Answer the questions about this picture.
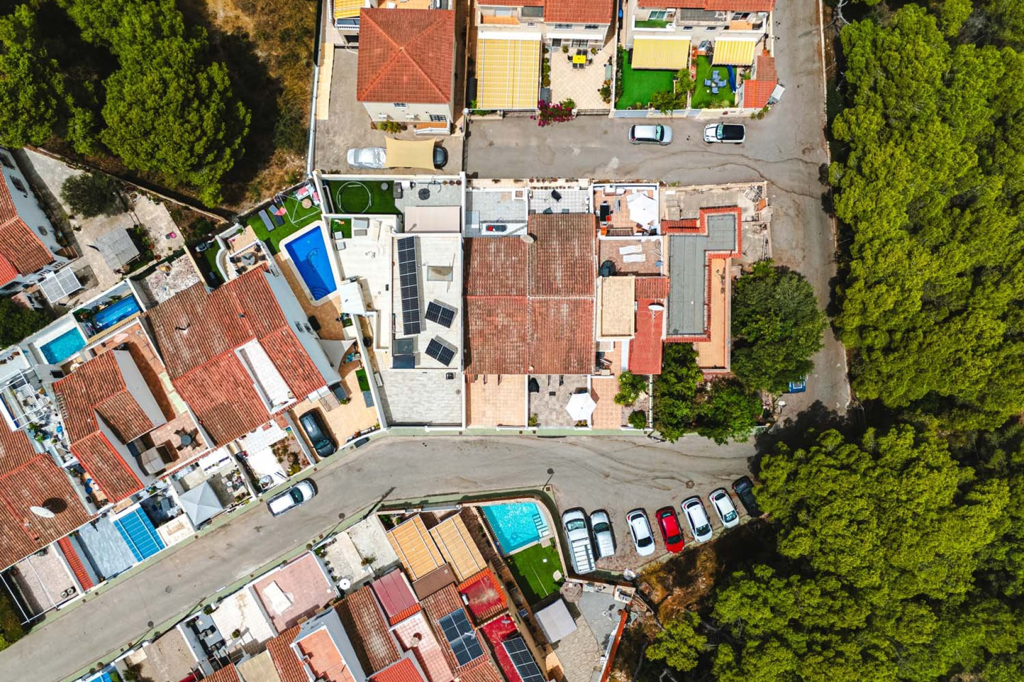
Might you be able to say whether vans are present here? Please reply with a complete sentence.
Yes, this view includes a van.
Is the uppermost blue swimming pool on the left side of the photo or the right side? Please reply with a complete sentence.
The uppermost blue swimming pool appears in the left half of the scene.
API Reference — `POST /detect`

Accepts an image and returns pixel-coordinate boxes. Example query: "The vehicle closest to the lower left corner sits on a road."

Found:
[265,476,320,514]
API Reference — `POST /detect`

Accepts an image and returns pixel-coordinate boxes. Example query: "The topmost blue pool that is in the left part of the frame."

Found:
[278,217,341,308]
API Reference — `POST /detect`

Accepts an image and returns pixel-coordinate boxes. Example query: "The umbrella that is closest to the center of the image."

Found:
[565,393,599,423]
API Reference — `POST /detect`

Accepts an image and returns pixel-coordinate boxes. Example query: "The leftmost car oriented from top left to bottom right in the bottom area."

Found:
[299,407,339,458]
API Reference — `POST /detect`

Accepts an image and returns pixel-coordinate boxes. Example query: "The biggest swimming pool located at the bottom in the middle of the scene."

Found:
[479,501,549,558]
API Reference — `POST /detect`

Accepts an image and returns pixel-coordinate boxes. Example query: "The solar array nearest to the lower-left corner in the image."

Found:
[439,609,483,666]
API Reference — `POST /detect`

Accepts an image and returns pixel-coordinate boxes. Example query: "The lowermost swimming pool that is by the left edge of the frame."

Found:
[37,324,91,365]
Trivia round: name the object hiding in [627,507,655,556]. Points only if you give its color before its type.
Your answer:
white car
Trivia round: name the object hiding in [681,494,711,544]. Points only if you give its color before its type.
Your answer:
white car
